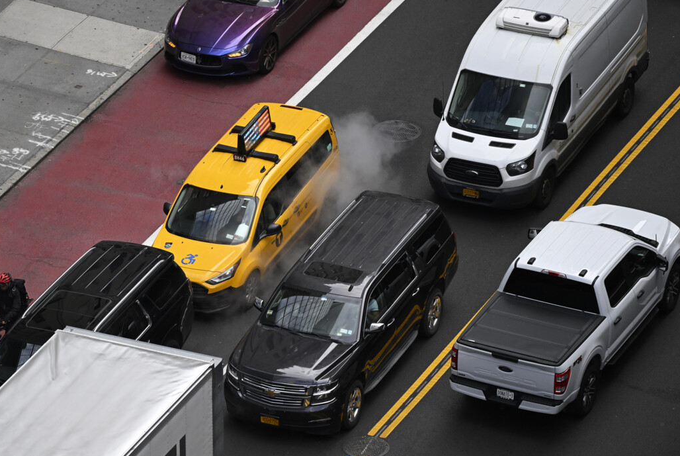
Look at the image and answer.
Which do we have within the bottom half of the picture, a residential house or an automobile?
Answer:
automobile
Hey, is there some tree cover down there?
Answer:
No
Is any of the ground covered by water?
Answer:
No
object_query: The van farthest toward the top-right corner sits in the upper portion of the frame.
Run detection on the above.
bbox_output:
[424,0,648,216]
